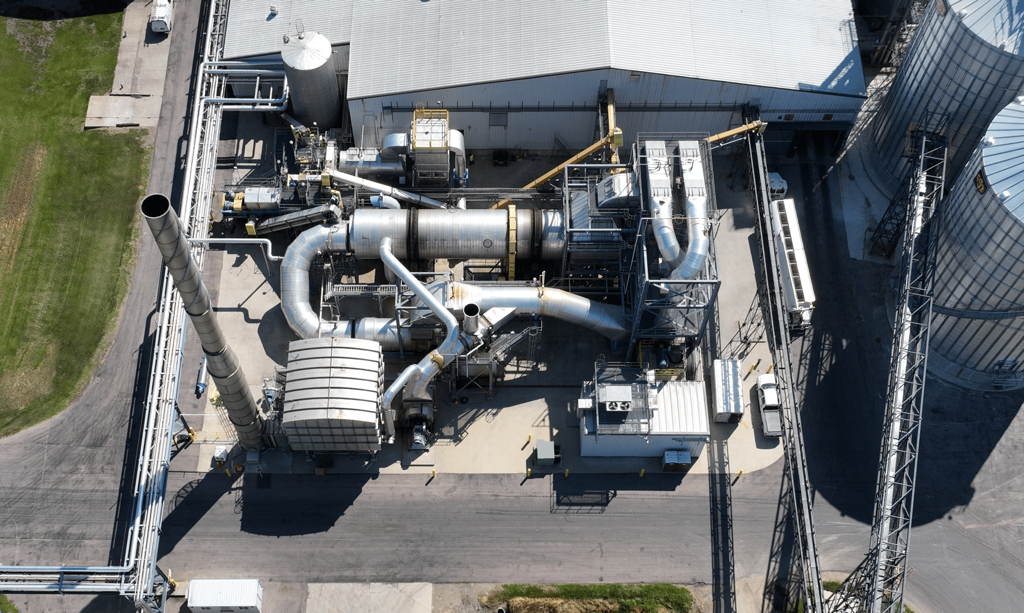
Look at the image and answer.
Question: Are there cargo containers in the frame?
Yes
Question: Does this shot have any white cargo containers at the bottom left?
Yes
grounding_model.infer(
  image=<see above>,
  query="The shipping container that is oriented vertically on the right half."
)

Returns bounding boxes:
[712,360,745,425]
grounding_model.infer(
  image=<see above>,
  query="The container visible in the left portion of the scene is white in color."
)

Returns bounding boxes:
[181,578,265,613]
